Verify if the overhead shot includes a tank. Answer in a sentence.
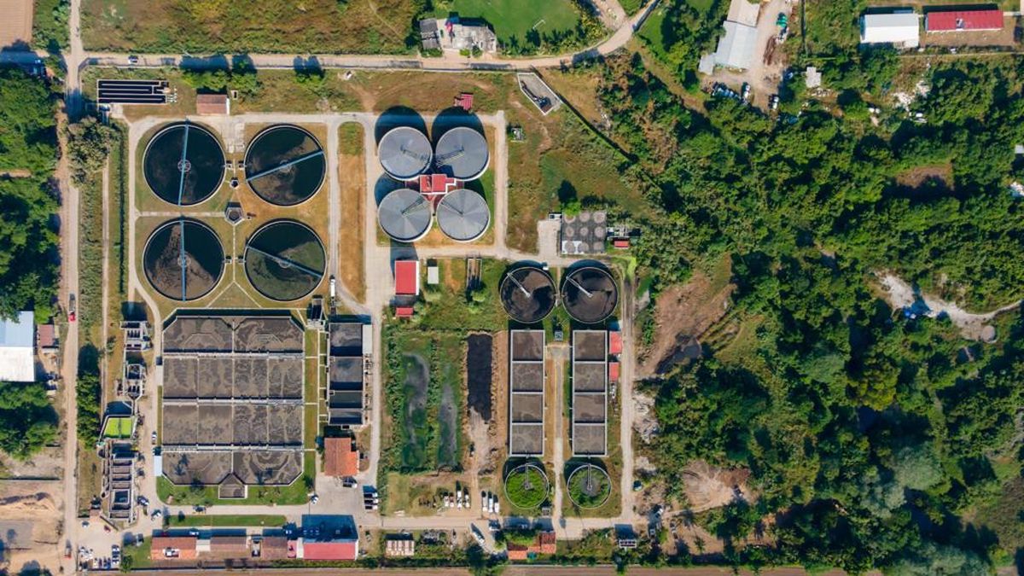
Yes, a tank is visible in the scene.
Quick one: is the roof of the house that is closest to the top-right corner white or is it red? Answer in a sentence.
The color of the roof of the house that is closest to the top-right corner is red.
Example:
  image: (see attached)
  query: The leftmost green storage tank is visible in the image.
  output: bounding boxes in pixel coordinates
[97,402,144,446]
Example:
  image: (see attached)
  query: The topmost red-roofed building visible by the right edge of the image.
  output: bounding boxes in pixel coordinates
[924,9,1004,33]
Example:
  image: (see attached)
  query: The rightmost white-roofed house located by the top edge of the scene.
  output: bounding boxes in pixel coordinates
[861,14,921,49]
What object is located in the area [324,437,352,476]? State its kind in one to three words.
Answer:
house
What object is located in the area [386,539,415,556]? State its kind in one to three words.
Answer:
shed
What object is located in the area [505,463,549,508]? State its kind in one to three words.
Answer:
storage tank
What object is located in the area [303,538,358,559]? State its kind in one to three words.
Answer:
building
